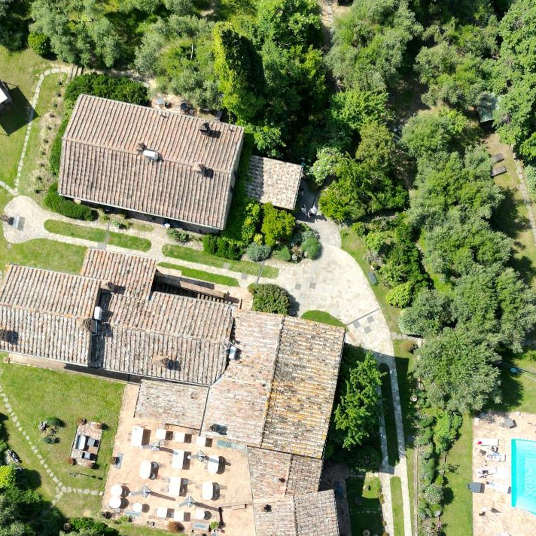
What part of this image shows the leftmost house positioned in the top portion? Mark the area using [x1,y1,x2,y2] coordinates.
[58,94,246,239]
